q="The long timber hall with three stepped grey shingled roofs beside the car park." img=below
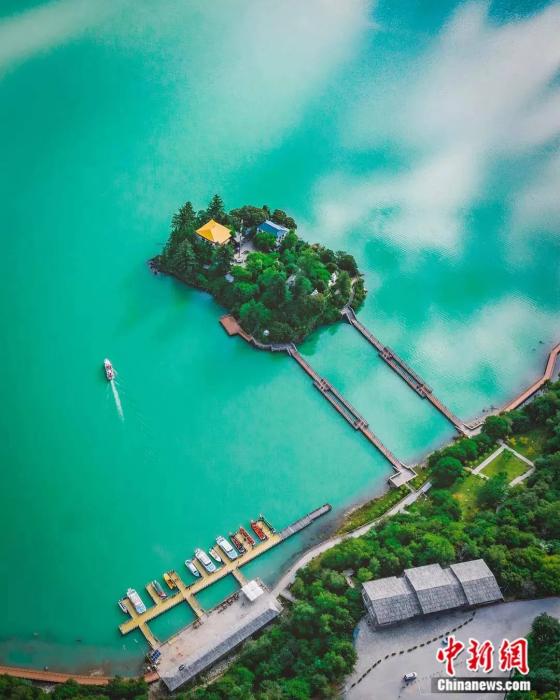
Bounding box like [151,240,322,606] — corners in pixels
[361,558,505,635]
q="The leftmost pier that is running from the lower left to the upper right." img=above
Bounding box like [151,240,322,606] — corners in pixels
[120,522,282,634]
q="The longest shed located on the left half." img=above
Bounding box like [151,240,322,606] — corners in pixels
[162,603,284,687]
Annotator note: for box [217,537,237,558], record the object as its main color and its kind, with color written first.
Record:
white boat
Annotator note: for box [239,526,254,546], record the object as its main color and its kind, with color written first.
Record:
red boat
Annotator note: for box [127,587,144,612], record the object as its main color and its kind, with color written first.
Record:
white boat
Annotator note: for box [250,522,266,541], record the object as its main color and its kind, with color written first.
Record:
red boat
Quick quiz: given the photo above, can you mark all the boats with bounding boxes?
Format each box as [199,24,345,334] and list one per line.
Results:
[261,515,274,533]
[127,587,144,612]
[250,522,266,541]
[239,526,254,546]
[105,359,114,381]
[151,581,165,600]
[217,537,237,558]
[165,574,177,590]
[229,536,243,554]
[185,560,200,577]
[209,549,221,562]
[194,549,215,573]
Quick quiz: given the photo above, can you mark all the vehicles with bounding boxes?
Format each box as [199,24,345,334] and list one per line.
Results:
[403,671,418,682]
[439,634,451,647]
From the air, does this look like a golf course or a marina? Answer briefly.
marina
